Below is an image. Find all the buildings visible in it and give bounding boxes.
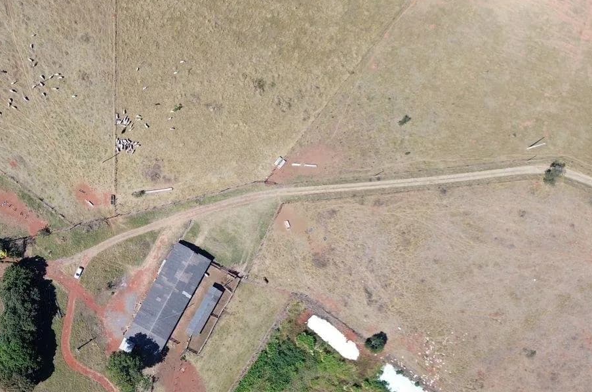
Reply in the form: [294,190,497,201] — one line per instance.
[120,244,213,362]
[185,286,224,335]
